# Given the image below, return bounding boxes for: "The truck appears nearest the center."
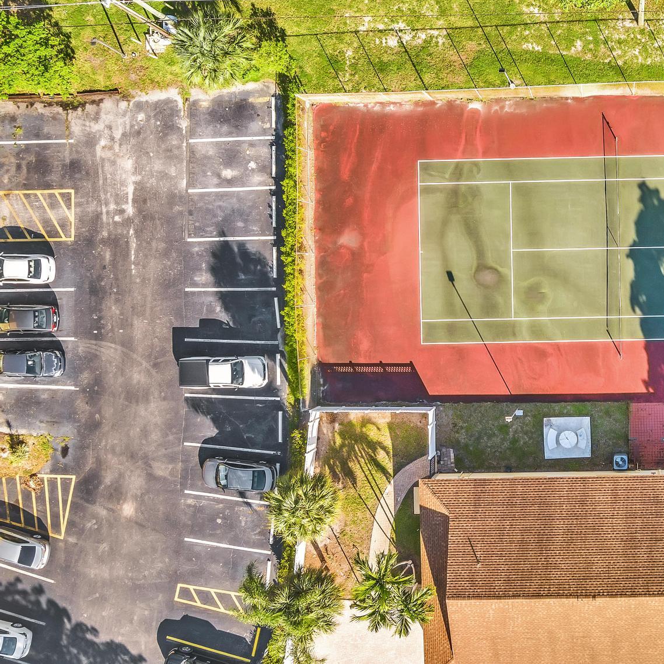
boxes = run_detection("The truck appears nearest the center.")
[176,354,271,392]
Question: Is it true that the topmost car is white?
Yes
